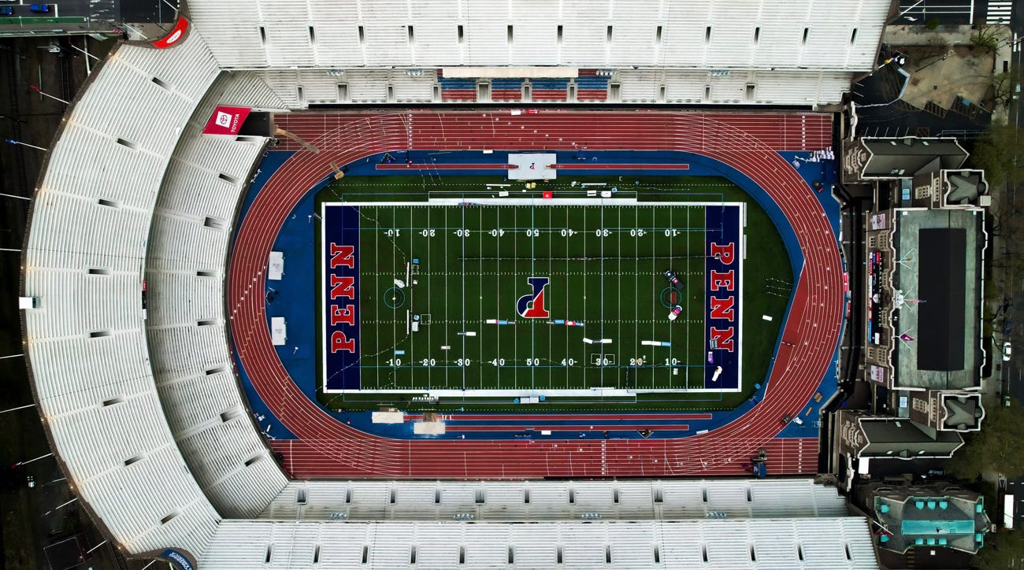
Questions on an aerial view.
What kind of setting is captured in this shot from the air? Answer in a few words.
sports ground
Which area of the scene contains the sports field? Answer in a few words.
center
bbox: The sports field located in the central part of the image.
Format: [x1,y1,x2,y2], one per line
[315,176,793,411]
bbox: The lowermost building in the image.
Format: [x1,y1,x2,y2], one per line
[850,471,991,554]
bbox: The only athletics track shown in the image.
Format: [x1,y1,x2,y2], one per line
[228,111,847,478]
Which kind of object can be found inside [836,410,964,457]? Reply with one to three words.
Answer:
building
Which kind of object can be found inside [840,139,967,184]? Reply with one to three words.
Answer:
building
